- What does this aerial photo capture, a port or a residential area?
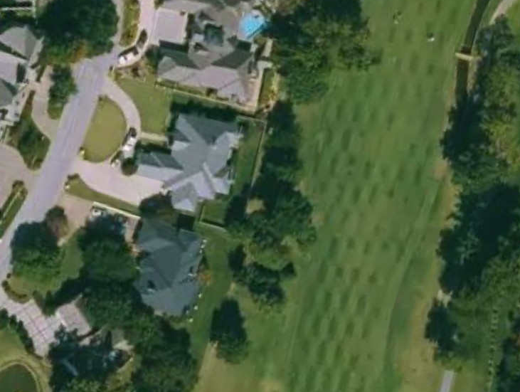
residential area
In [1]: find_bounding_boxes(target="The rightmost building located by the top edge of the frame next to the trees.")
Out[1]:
[153,0,254,101]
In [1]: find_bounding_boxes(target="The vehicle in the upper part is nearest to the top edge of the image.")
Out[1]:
[136,27,149,47]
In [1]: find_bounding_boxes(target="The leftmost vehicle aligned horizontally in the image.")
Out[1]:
[89,207,109,219]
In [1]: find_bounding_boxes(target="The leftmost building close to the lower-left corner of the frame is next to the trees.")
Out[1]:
[57,302,92,341]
